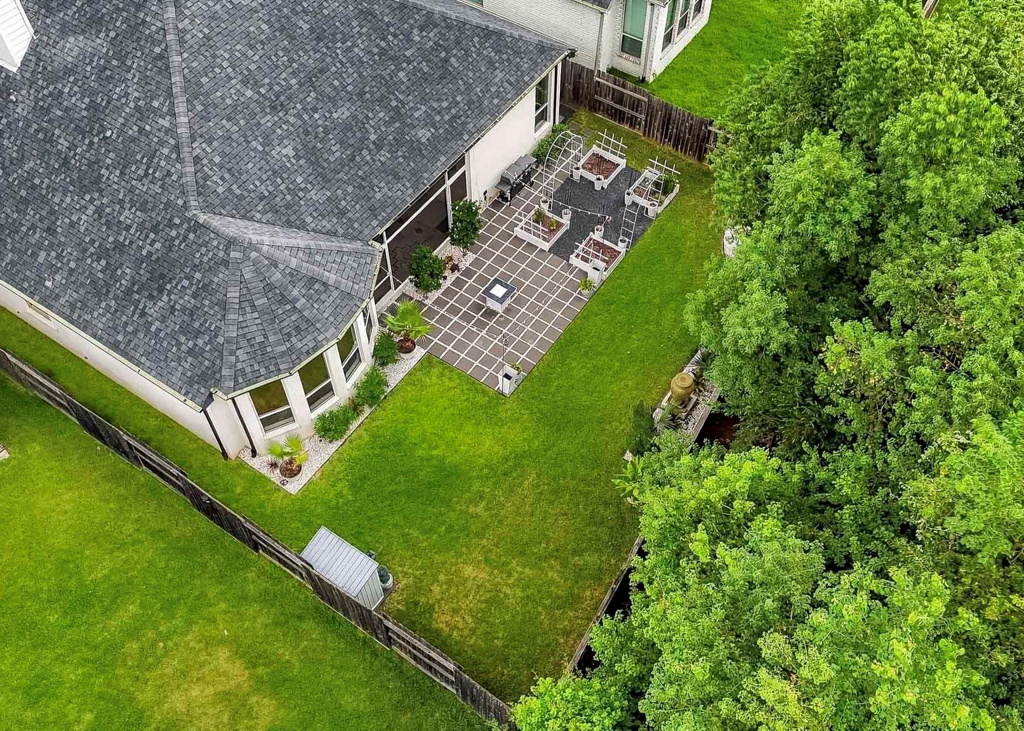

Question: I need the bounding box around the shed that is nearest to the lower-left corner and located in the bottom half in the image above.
[301,522,384,606]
